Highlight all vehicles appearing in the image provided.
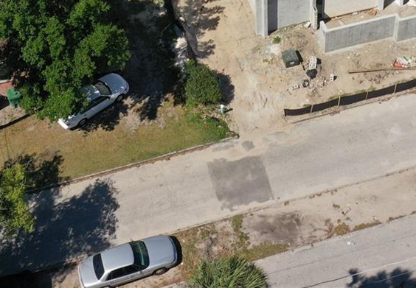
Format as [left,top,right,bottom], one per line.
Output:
[52,77,137,138]
[75,232,180,288]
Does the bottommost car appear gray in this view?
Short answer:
Yes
